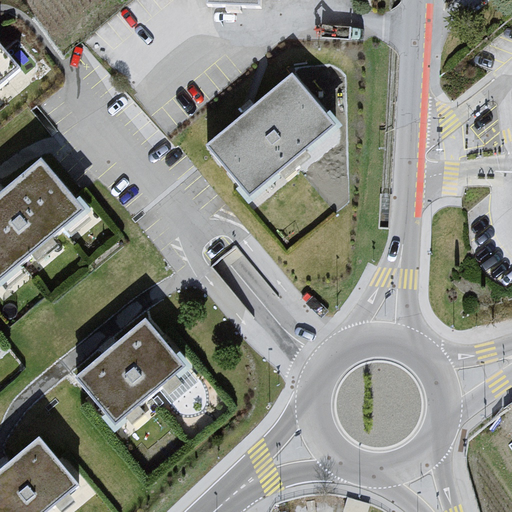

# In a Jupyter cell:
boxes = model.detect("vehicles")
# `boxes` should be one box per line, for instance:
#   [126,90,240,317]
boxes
[111,177,130,196]
[302,292,328,316]
[150,144,171,163]
[135,25,152,45]
[388,239,400,261]
[471,214,492,233]
[188,84,204,104]
[120,8,138,28]
[120,184,138,204]
[476,240,498,261]
[214,13,237,27]
[206,238,226,257]
[502,27,512,38]
[166,148,184,166]
[474,54,495,68]
[491,260,512,280]
[474,108,494,130]
[108,96,128,114]
[500,271,512,286]
[295,326,316,341]
[318,24,360,40]
[475,226,496,246]
[482,250,505,269]
[70,45,83,68]
[176,89,195,113]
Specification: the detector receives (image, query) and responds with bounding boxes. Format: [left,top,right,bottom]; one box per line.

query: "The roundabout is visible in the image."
[295,320,464,489]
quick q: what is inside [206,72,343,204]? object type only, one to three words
building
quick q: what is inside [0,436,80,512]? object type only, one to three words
building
